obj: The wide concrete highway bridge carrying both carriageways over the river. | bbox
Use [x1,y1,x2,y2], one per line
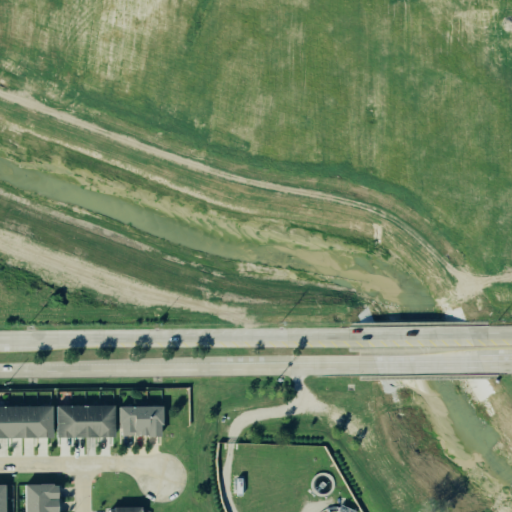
[350,322,512,379]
